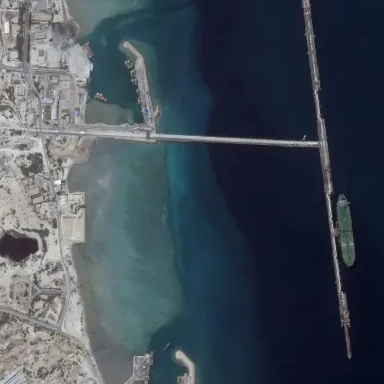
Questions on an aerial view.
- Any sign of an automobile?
No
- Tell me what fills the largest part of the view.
water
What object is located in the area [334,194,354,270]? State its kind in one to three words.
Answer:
ship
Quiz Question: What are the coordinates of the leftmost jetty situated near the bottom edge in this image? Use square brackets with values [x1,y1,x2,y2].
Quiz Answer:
[123,355,152,384]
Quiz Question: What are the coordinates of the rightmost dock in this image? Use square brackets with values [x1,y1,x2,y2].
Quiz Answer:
[302,0,351,360]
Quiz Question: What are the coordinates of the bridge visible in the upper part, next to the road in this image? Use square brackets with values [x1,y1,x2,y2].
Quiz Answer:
[43,129,320,147]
